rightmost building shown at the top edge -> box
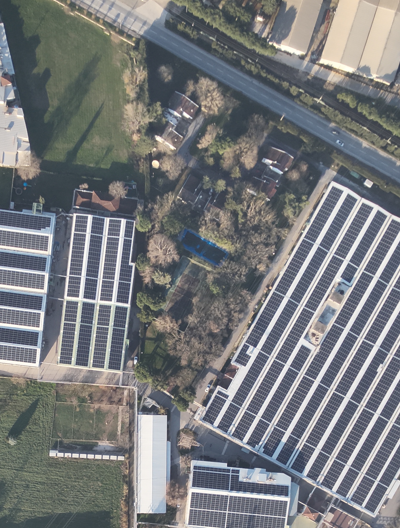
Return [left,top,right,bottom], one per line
[319,0,400,89]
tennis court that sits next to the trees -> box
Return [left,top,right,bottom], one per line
[163,256,213,332]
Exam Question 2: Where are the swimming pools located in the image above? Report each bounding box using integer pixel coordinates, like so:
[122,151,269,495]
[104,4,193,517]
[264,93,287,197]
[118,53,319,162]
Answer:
[181,229,228,264]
